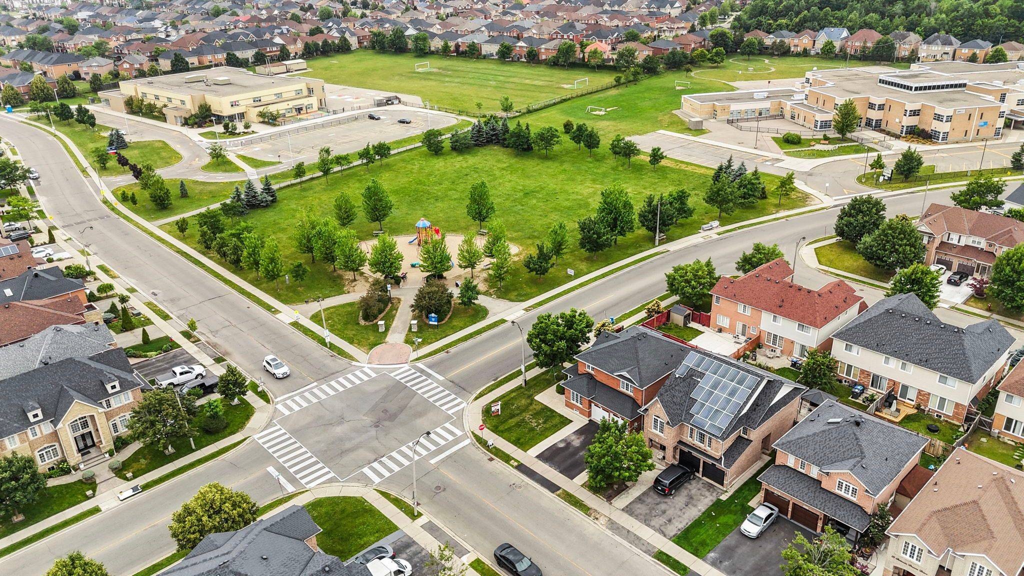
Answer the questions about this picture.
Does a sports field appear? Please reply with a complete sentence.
Yes, the frame does contain a sports field.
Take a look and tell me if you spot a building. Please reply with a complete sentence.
Yes, the frame does contain a building.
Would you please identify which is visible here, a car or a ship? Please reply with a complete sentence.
There is a car in the scene.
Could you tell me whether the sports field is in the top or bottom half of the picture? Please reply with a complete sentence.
The sports field sits in the top half of the picture.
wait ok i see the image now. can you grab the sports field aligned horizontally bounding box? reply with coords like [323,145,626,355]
[283,50,620,115]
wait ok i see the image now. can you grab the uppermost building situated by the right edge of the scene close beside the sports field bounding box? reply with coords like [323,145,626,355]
[681,61,1024,142]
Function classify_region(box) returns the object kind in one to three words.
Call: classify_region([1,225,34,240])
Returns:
car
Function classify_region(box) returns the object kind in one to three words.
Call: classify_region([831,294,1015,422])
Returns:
house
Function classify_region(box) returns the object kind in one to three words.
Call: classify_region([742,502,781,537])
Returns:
car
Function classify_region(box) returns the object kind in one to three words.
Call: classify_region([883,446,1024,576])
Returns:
house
